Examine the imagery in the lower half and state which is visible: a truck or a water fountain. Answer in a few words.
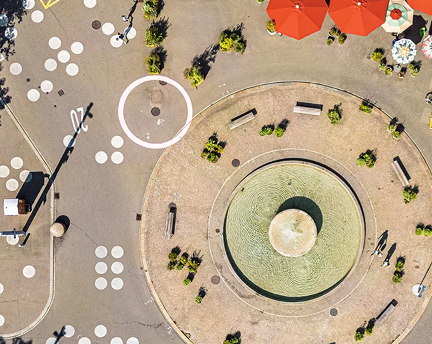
water fountain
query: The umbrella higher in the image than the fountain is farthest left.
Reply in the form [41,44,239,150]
[266,0,327,41]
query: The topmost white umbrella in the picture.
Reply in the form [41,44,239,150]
[383,3,413,31]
